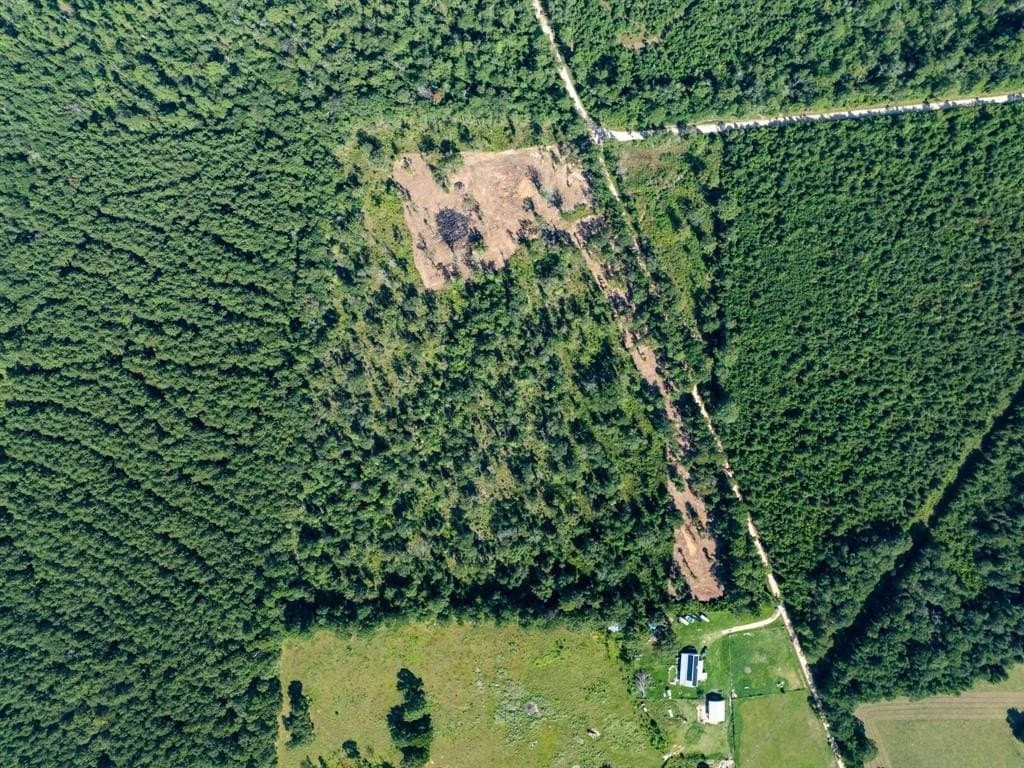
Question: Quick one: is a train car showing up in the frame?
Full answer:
No, no train car is visible in the scene.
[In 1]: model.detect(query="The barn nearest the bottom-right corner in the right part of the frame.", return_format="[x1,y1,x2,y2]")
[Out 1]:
[708,698,725,722]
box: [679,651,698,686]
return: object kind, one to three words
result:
house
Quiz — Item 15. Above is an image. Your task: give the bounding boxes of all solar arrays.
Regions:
[688,655,694,679]
[693,655,698,684]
